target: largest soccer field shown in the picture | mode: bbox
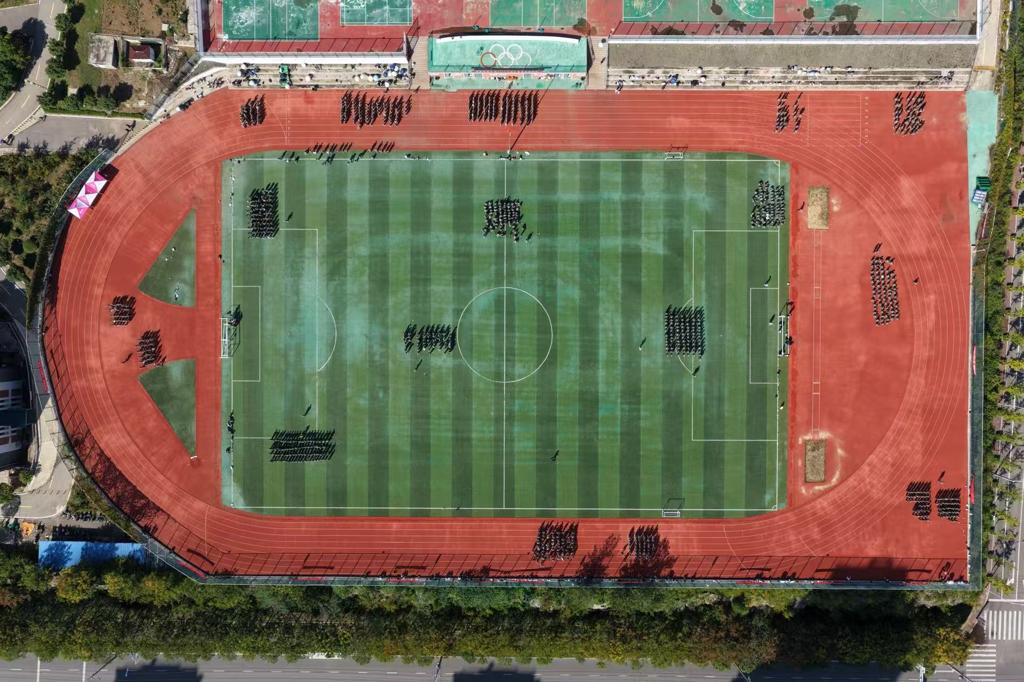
[221,151,789,518]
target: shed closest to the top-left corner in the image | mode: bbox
[89,35,119,69]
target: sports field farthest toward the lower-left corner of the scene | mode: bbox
[138,358,195,457]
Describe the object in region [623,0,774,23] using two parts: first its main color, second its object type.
green basketball court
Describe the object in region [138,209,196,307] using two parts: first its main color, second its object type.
green sports field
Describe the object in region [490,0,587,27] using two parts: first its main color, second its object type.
green sports court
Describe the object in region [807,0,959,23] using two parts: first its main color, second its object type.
green basketball court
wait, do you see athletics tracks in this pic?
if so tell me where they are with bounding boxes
[42,89,970,582]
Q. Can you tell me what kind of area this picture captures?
sports ground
